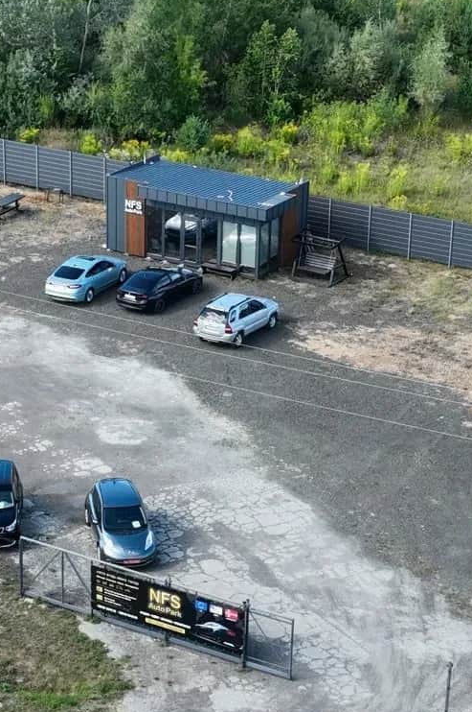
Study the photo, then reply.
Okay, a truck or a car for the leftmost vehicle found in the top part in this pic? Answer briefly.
car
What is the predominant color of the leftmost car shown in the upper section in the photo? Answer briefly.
blue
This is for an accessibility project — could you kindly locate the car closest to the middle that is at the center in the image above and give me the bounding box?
[190,288,283,346]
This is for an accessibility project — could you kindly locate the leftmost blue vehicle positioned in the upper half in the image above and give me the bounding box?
[42,254,131,303]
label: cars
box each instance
[0,461,31,556]
[113,264,206,312]
[42,254,131,303]
[83,472,158,565]
[190,288,283,346]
